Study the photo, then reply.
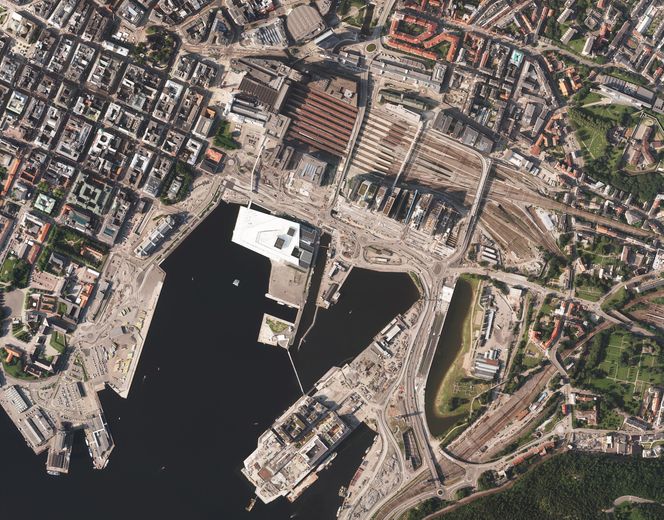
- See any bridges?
Yes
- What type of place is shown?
port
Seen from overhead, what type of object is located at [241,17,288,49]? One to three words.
building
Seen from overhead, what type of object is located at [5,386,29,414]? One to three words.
shed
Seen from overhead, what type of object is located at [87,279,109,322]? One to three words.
building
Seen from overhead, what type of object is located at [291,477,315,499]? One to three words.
ship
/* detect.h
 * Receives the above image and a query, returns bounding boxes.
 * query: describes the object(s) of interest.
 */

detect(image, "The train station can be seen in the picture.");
[224,57,403,177]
